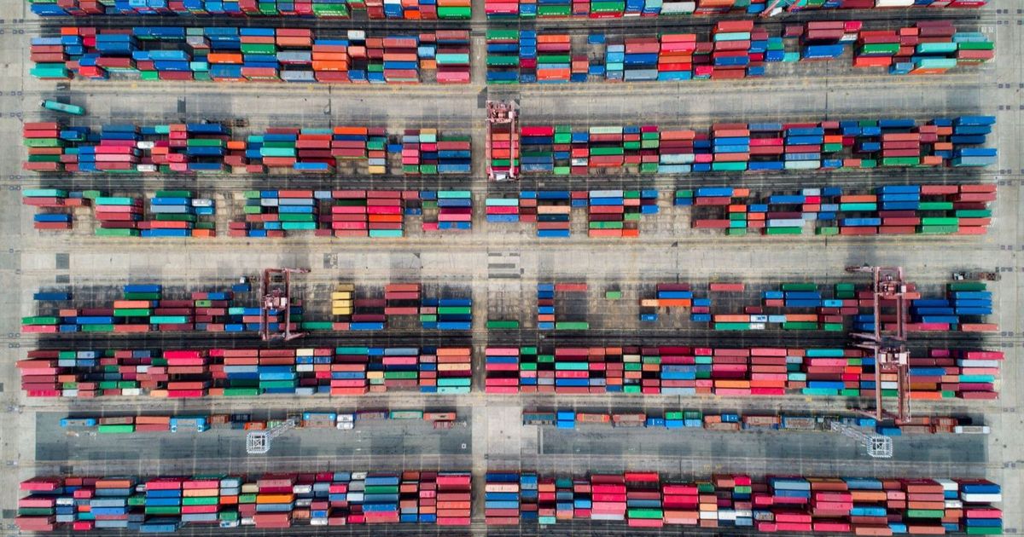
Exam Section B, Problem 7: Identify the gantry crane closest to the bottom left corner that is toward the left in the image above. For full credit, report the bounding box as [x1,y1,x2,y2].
[260,267,315,340]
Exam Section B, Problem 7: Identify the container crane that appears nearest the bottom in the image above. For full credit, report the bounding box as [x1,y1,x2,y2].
[841,343,909,421]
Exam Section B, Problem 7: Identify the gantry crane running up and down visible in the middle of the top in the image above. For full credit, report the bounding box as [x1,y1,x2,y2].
[484,99,522,180]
